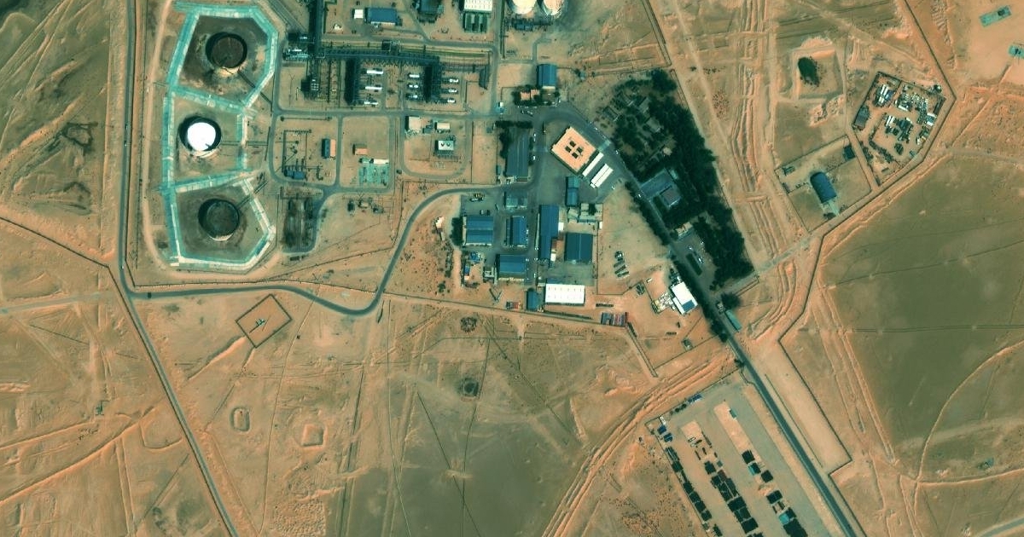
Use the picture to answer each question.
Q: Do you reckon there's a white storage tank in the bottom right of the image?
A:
No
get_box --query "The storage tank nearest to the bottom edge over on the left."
[204,199,240,237]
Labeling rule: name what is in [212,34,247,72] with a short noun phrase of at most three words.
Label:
storage tank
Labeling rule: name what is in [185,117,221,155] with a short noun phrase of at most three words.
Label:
storage tank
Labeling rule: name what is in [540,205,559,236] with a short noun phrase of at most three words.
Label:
building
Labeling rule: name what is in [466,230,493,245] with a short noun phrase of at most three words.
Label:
building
